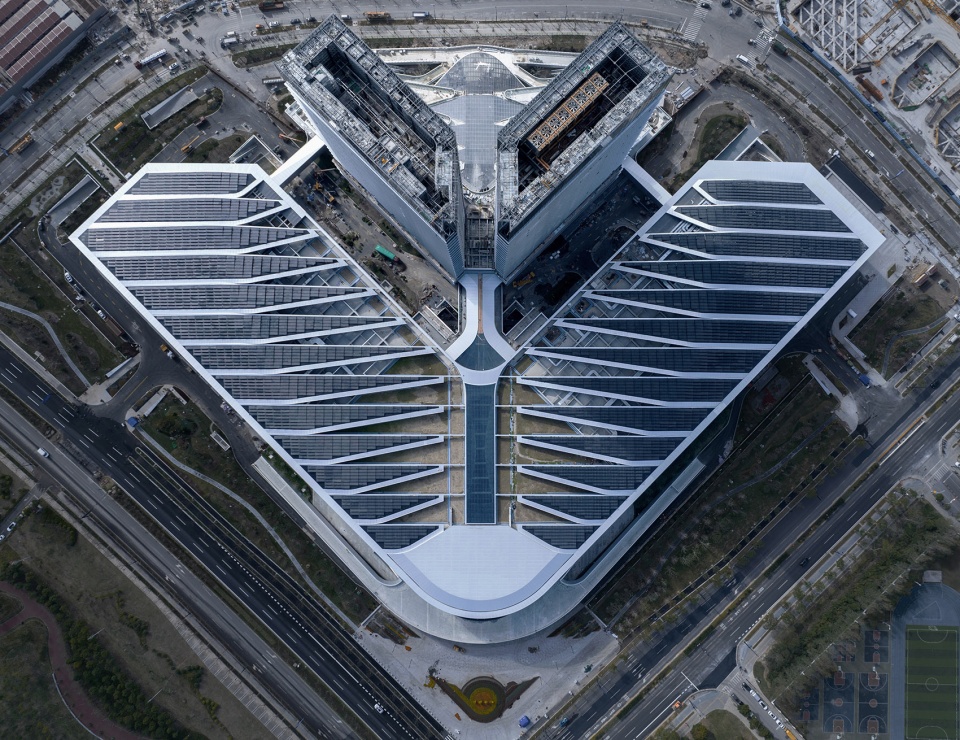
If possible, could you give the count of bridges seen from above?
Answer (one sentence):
The picture shows 2 bridges.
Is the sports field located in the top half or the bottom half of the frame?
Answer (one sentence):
Seen from above, the sports field lies in the bottom half of the view.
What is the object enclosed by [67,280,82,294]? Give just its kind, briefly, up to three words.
vehicle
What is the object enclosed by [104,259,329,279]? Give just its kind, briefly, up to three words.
solar array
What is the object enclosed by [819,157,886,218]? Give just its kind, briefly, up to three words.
building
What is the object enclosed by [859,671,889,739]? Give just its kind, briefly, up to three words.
basketball court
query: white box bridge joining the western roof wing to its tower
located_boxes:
[268,133,329,193]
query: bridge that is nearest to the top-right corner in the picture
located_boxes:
[616,154,673,212]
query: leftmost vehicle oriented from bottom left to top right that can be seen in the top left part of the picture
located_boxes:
[7,133,30,152]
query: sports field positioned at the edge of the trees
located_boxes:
[906,626,958,740]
